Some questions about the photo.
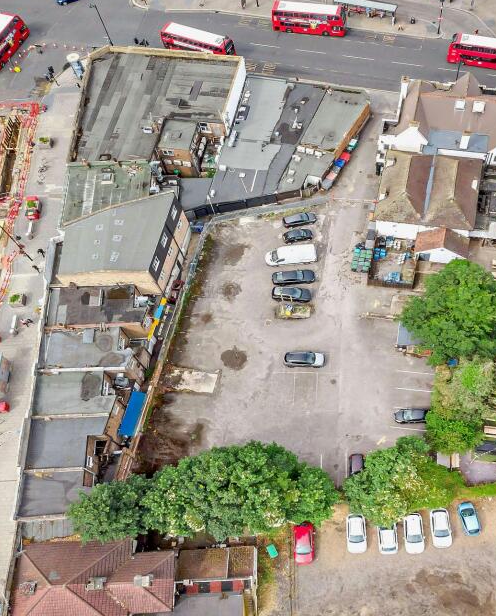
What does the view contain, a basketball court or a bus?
bus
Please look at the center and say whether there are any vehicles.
Yes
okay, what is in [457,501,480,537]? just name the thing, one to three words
car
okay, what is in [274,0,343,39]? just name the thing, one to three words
bus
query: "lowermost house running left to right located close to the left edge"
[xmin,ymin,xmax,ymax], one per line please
[9,537,185,616]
